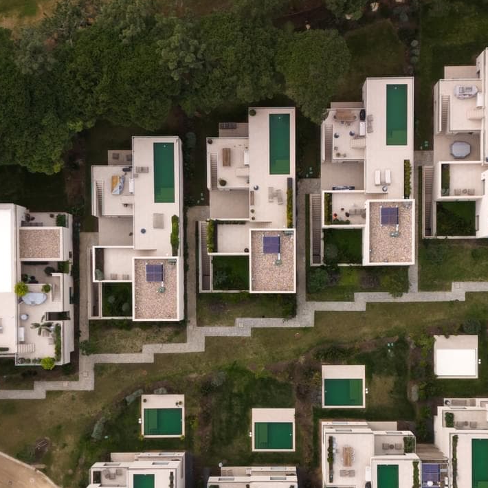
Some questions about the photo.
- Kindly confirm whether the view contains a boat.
No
